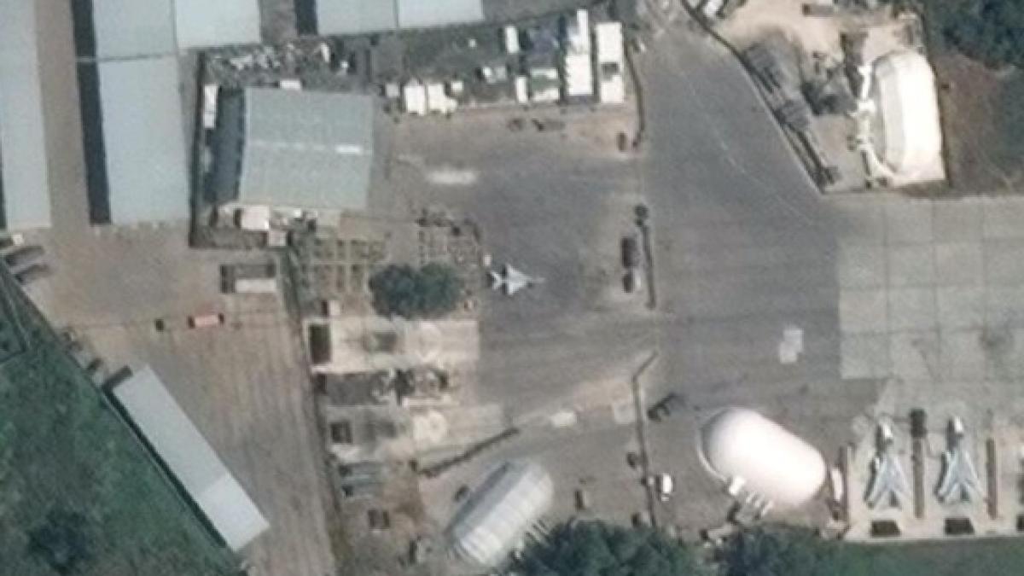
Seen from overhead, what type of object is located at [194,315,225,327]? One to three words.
vehicle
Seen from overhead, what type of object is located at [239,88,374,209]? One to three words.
hangar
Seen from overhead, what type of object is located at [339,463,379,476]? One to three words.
vehicle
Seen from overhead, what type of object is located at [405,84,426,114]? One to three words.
building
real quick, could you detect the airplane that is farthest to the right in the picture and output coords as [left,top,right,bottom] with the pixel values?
[938,422,982,507]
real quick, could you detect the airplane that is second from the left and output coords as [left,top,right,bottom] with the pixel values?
[866,425,911,512]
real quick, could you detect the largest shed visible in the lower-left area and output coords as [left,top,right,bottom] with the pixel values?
[113,366,269,551]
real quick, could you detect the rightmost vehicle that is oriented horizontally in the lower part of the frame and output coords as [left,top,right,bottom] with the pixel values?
[702,524,732,539]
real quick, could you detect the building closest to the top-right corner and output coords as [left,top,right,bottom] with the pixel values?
[874,51,946,183]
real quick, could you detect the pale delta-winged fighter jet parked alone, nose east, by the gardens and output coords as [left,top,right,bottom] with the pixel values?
[491,264,538,295]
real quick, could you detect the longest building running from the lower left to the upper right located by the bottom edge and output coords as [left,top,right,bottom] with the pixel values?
[451,464,554,564]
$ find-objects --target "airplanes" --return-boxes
[491,264,538,295]
[938,422,982,507]
[866,425,911,512]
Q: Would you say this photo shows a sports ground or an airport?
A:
airport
